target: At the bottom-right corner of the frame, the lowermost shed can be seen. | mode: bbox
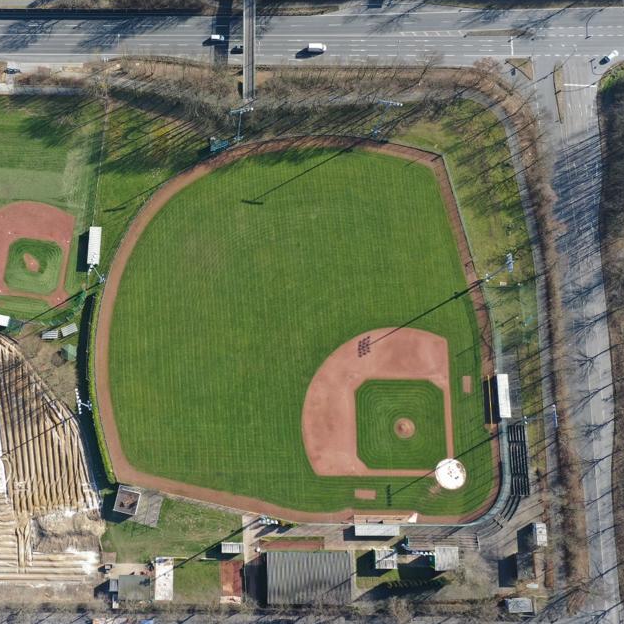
[504,596,534,613]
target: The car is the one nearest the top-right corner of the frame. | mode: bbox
[606,48,621,61]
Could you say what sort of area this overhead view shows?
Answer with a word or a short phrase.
sports ground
